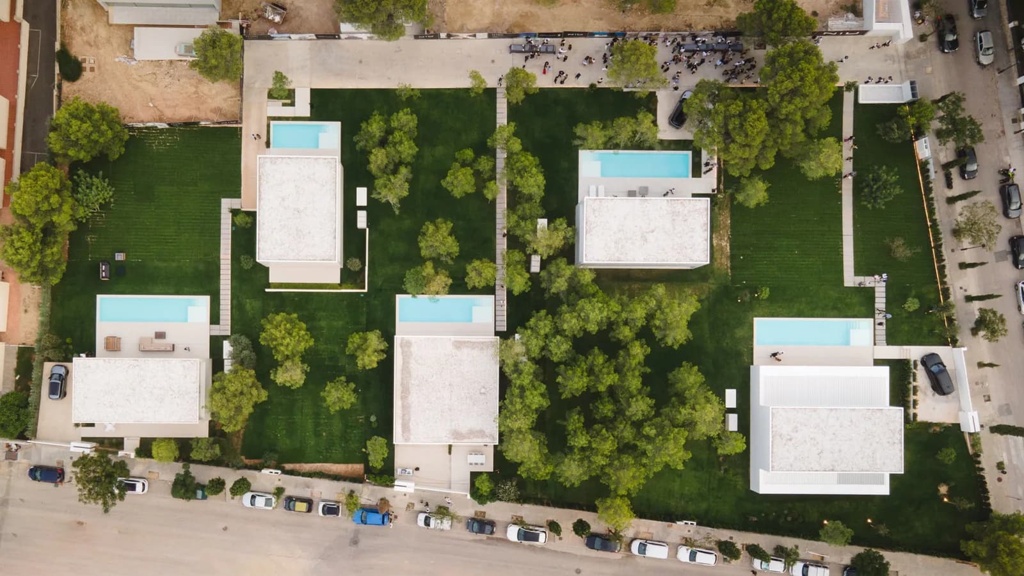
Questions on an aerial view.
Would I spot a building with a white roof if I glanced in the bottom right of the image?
Yes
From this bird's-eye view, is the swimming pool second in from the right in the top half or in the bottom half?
top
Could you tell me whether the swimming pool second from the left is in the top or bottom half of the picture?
top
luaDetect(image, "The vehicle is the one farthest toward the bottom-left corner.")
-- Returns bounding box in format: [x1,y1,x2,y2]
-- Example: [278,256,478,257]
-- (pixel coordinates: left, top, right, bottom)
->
[29,466,66,483]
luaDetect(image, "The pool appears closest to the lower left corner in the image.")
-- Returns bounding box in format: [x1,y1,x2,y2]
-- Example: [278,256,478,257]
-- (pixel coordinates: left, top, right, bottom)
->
[97,295,210,357]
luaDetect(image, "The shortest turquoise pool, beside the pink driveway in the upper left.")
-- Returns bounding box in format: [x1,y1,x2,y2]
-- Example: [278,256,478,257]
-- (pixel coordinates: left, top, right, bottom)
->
[271,122,341,156]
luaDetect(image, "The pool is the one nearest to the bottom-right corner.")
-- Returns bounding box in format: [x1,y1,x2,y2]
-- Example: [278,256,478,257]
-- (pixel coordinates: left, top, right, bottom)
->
[753,318,874,365]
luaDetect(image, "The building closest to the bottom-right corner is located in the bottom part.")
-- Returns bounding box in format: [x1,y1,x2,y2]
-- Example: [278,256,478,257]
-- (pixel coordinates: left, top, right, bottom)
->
[948,410,980,431]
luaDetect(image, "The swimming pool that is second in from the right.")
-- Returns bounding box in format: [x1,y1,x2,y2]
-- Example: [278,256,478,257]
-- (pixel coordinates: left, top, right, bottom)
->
[578,150,692,199]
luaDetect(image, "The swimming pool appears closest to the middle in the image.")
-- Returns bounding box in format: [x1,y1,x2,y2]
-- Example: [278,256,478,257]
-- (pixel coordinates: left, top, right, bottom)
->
[396,295,495,336]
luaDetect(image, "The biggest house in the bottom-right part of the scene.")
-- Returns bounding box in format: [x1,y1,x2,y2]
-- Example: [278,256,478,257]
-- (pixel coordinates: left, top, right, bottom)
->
[749,365,903,494]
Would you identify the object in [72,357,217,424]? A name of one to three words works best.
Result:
house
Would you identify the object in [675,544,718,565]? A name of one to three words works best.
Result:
car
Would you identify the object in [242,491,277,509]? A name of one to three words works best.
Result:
car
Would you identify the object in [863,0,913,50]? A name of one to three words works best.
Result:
building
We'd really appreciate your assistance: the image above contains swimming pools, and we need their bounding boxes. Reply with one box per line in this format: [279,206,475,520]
[753,318,874,365]
[97,295,210,357]
[271,122,341,156]
[396,295,495,336]
[578,150,692,199]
